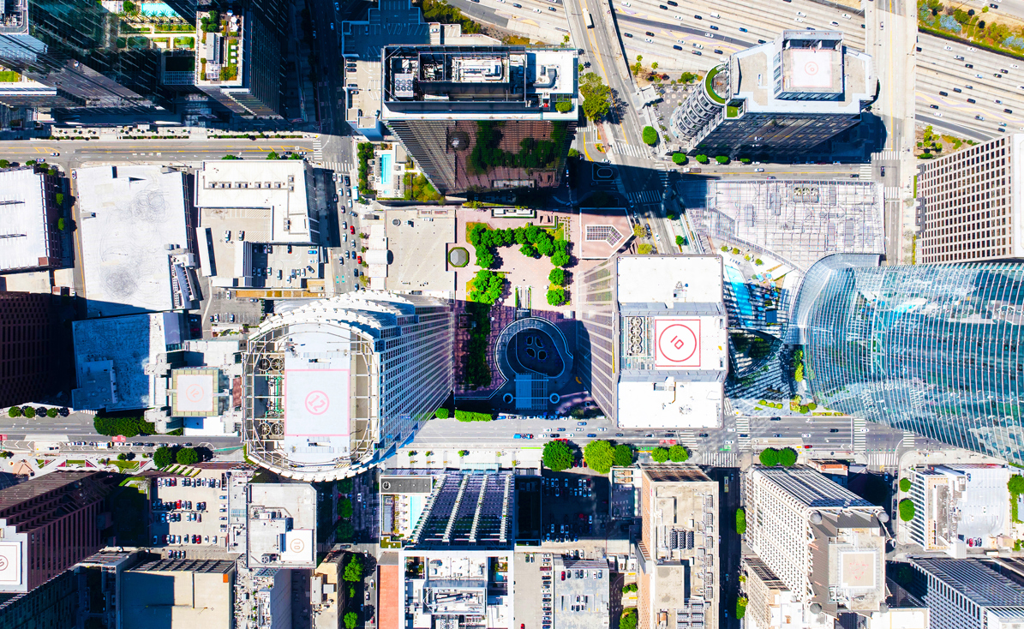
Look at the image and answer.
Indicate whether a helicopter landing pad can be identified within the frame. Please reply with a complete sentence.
Yes, the frame does contain a helicopter landing pad.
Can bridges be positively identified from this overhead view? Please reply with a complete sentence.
Yes, you can see a bridge in this photo.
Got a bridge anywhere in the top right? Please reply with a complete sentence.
Yes, there is a bridge in the top right.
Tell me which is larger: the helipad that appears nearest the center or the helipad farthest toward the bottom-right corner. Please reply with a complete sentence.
The larger object is the helipad that appears nearest the center, with the helipad farthest toward the bottom-right corner being the smaller of the pair.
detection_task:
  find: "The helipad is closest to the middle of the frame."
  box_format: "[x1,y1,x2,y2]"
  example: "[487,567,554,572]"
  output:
[655,317,701,368]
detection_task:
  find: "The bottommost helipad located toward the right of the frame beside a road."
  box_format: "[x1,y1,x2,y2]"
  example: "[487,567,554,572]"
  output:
[837,549,877,589]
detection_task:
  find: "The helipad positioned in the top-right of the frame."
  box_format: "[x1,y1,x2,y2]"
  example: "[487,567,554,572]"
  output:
[791,49,833,88]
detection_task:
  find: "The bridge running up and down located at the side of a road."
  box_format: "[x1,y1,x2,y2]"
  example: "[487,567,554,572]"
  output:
[863,0,917,159]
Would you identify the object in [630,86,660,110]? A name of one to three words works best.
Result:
building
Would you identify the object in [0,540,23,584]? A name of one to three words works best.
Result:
helipad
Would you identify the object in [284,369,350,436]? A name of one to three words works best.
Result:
helipad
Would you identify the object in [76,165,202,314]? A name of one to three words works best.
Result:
building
